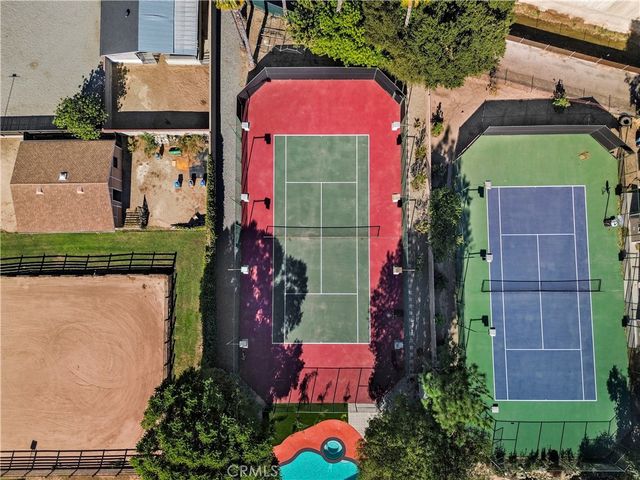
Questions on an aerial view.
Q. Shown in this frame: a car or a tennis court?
tennis court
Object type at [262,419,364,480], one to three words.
swimming pool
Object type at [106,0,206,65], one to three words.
barn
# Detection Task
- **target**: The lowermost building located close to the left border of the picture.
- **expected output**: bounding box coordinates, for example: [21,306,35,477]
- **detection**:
[14,141,126,231]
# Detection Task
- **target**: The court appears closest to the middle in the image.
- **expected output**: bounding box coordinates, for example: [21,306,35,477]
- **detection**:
[241,80,402,403]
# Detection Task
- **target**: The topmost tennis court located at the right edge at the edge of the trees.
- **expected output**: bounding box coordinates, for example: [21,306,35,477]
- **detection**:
[458,134,632,454]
